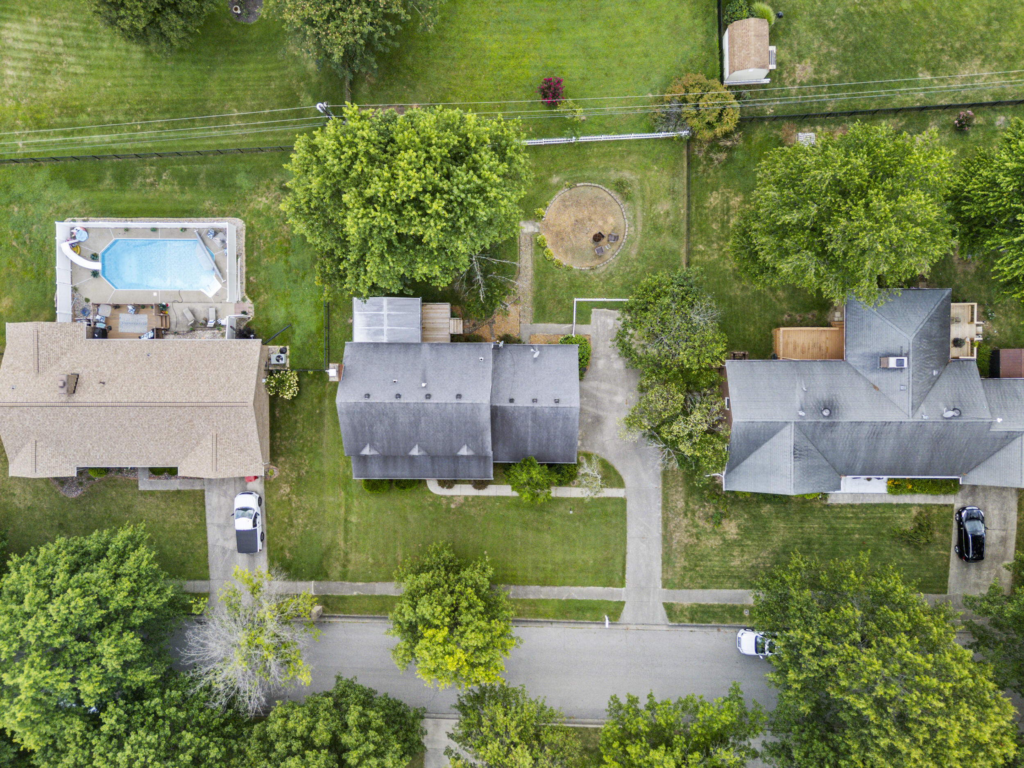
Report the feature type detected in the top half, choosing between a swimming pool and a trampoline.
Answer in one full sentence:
You can see a swimming pool in the top half.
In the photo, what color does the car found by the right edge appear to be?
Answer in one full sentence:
The color of the car found by the right edge is black.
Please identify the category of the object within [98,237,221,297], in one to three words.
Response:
swimming pool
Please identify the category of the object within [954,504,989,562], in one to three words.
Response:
car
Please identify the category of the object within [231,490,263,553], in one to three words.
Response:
truck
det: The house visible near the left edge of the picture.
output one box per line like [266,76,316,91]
[0,321,277,478]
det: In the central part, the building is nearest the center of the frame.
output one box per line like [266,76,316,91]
[324,296,581,481]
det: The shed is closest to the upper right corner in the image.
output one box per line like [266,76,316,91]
[724,15,772,89]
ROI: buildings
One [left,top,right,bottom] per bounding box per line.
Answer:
[0,321,277,478]
[724,15,772,89]
[710,287,1024,494]
[324,296,581,481]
